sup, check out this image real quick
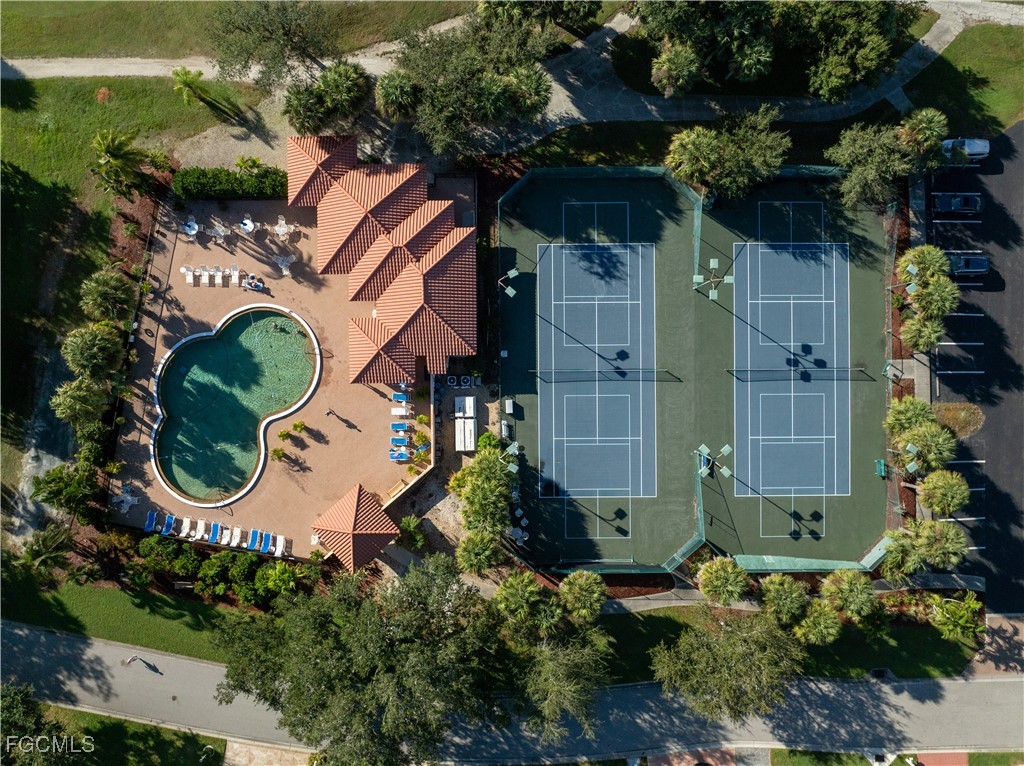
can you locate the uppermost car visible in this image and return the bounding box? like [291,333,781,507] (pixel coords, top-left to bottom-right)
[936,138,990,164]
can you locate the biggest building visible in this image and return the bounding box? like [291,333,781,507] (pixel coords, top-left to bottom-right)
[286,135,477,384]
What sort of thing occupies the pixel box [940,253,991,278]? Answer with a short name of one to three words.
car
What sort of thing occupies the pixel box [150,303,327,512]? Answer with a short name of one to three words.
swimming pool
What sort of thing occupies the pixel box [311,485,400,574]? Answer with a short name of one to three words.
gazebo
